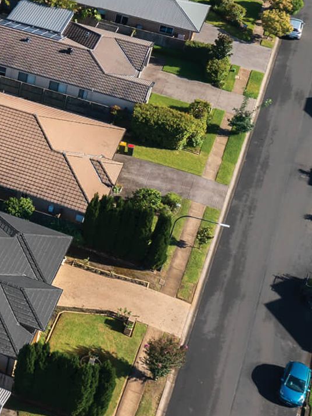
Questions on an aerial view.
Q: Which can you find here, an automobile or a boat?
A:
automobile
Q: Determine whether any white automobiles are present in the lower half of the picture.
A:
No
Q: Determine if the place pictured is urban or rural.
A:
urban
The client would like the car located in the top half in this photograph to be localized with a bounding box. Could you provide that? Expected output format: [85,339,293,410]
[283,22,304,42]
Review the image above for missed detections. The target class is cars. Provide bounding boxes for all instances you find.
[283,22,304,42]
[273,364,312,414]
